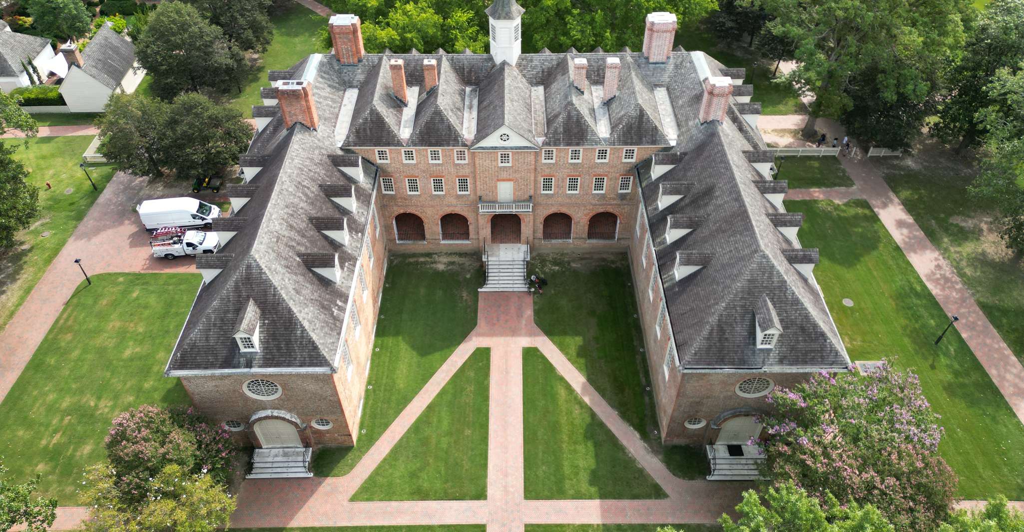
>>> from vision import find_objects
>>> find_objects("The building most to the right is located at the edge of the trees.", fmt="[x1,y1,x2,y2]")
[162,0,853,481]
